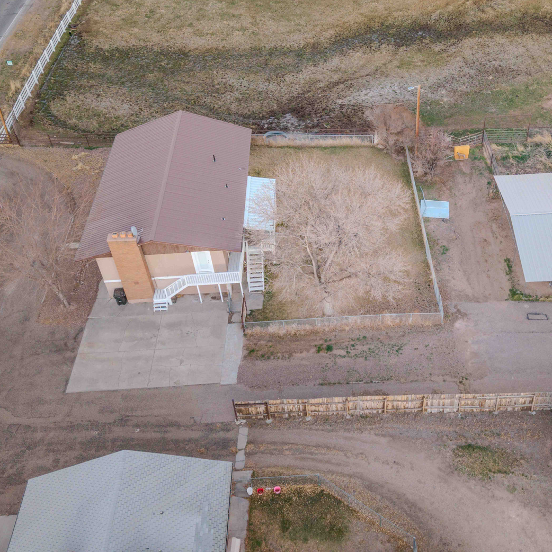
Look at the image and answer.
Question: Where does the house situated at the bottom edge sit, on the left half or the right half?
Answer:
left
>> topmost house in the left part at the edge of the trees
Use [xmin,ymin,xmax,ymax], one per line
[73,110,253,304]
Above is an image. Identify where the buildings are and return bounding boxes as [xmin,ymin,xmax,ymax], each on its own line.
[495,174,552,300]
[73,110,253,304]
[4,450,235,552]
